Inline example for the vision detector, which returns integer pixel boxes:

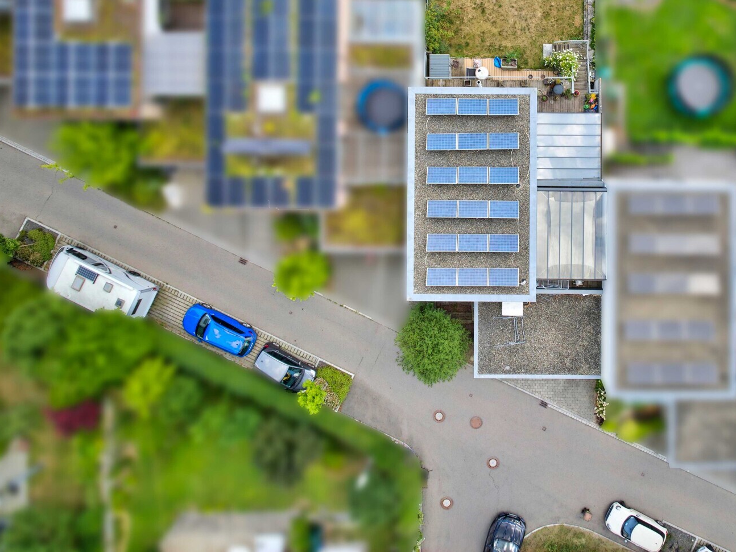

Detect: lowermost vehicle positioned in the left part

[250,341,317,395]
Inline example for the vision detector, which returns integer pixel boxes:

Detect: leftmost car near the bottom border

[485,511,526,552]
